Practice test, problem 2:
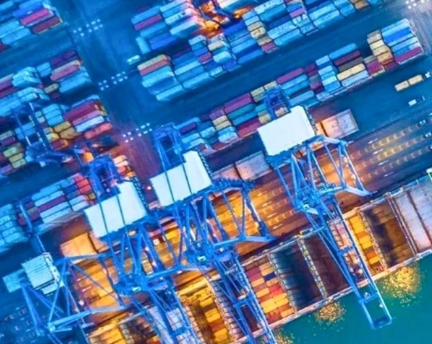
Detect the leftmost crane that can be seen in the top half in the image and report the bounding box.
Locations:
[11,100,79,166]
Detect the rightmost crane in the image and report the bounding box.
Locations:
[248,75,390,332]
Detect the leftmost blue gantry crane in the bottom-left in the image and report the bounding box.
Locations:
[0,194,141,344]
